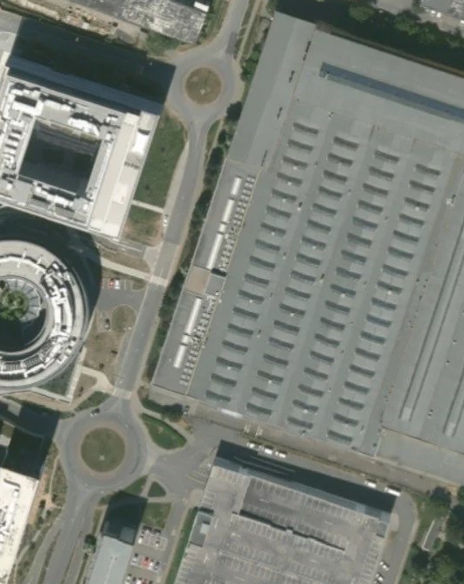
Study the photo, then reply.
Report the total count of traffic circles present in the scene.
2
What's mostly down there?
buildings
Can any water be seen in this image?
No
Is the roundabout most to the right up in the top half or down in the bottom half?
top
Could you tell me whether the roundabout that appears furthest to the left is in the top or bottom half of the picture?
bottom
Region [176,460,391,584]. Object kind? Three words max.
building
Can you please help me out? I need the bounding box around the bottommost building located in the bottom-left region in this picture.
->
[84,518,139,584]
